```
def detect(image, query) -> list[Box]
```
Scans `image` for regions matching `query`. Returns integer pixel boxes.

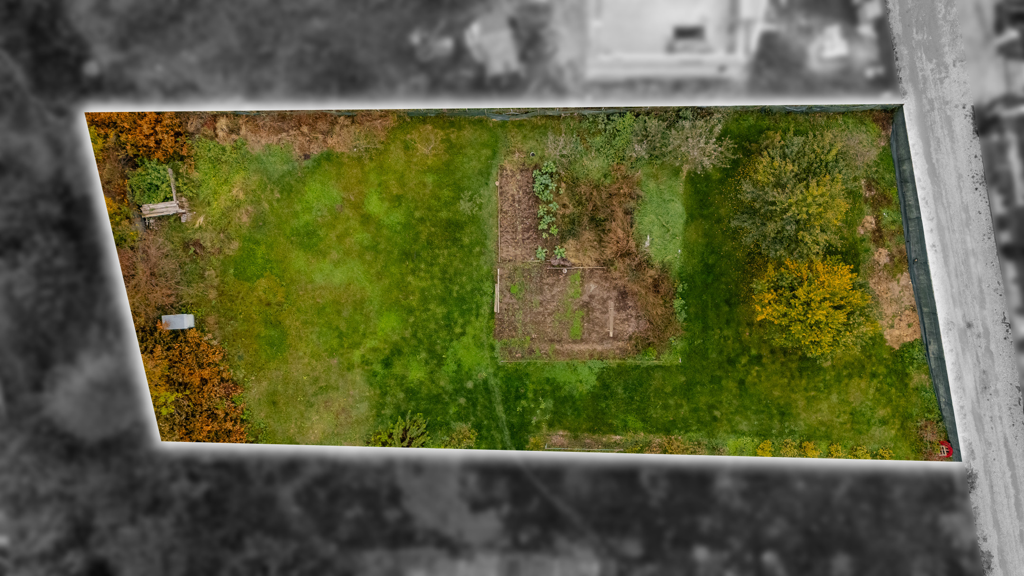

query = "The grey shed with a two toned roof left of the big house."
[464,12,522,83]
